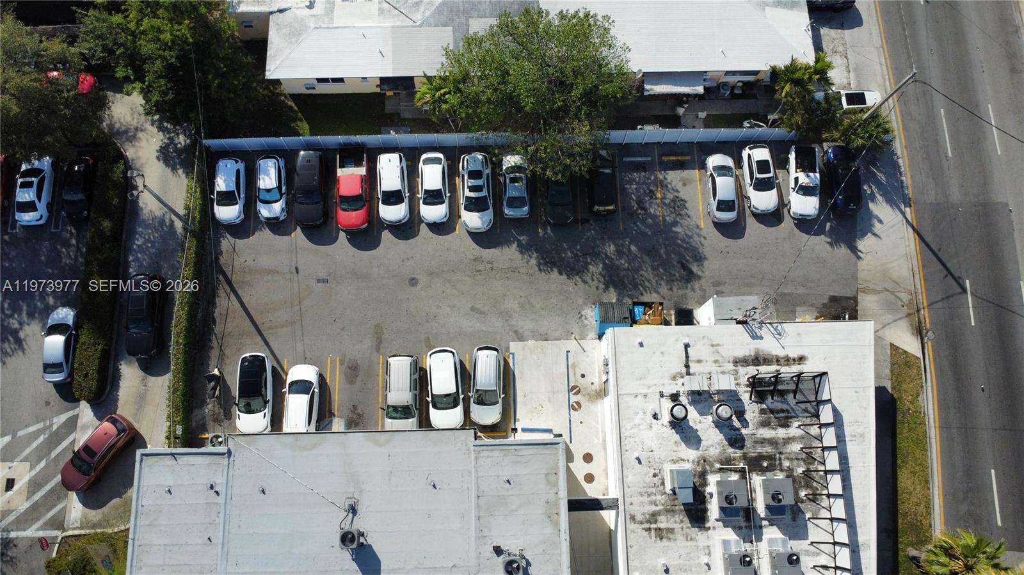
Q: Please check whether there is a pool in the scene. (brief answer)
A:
No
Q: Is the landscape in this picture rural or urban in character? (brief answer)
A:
urban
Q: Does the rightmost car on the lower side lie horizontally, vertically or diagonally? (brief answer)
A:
vertically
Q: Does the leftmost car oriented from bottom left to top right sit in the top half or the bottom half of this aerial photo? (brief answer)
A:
bottom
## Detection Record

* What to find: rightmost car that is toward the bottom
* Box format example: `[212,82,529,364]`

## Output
[468,347,505,426]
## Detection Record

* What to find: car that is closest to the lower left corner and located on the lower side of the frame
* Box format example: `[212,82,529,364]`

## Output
[66,413,139,489]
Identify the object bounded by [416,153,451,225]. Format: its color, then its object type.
white car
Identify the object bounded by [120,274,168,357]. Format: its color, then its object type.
black car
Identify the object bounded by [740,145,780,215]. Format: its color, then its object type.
white car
